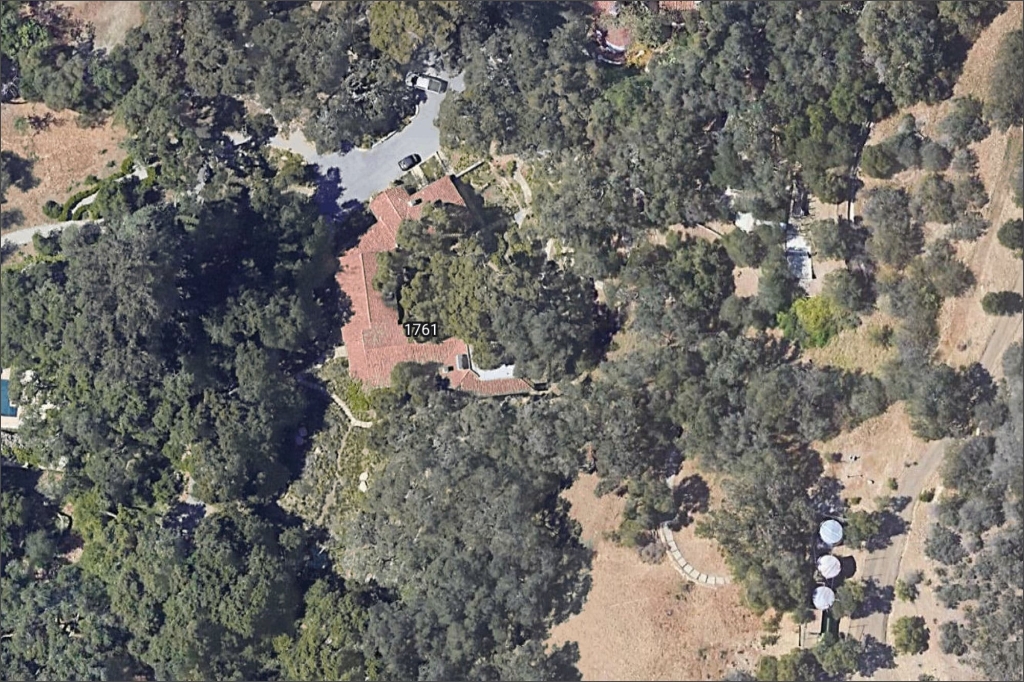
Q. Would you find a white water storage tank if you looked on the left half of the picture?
No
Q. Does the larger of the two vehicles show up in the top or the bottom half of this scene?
top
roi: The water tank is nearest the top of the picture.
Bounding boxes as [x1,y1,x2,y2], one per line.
[817,520,843,545]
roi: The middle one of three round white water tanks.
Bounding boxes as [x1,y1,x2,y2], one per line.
[815,555,841,580]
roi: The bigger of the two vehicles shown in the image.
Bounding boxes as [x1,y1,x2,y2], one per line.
[404,74,443,94]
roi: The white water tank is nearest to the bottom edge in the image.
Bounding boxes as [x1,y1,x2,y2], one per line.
[810,585,835,609]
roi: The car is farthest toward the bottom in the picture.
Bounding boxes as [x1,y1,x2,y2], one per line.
[396,152,423,171]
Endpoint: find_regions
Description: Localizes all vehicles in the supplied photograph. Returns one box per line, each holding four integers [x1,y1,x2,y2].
[396,152,423,171]
[404,74,443,94]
